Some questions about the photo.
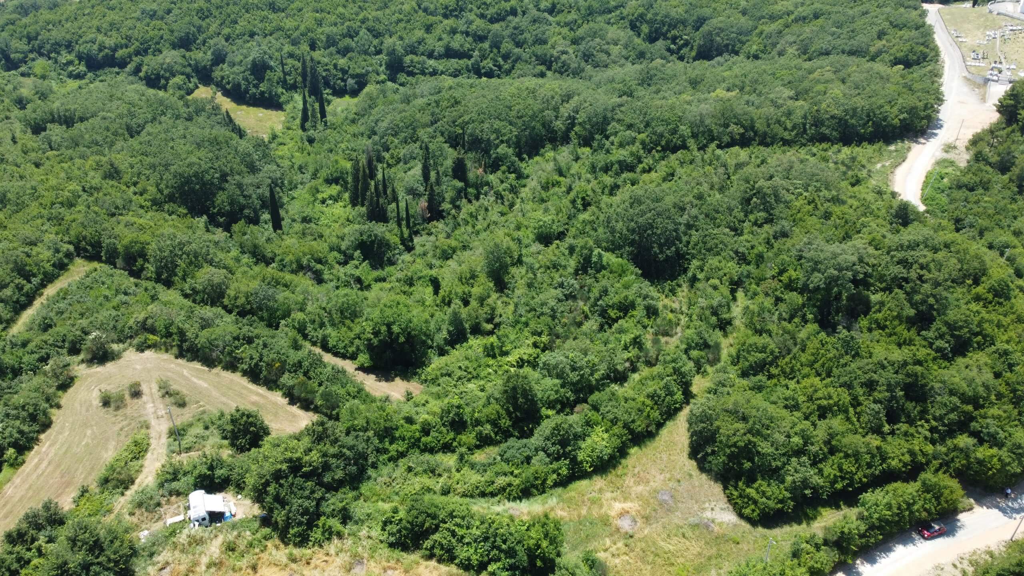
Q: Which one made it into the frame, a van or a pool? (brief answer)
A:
van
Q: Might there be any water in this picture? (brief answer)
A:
No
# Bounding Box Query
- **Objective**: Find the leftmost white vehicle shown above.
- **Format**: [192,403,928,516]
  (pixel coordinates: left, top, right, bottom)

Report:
[187,489,228,527]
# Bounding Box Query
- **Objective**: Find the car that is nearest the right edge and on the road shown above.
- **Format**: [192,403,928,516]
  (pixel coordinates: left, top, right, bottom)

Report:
[921,518,951,537]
